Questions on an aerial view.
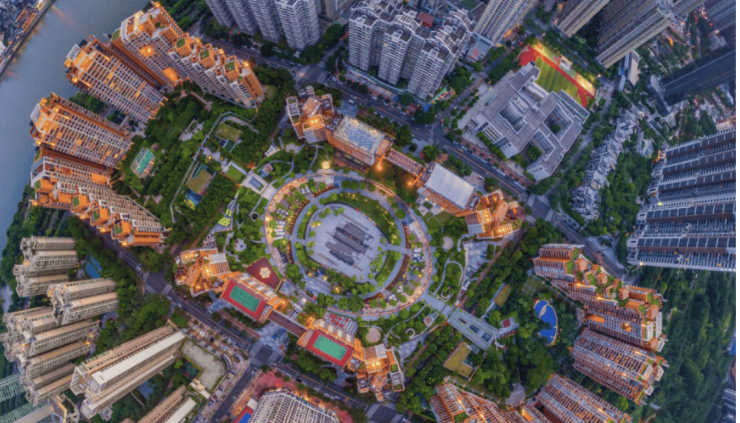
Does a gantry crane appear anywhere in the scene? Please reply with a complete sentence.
No, no gantry crane is visible in the scene.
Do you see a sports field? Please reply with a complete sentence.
Yes, there is a sports field in the image.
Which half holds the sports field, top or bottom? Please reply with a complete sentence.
The top half of the photo is where the sports field is.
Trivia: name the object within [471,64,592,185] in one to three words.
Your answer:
building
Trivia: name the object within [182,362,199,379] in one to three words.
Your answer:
swimming pool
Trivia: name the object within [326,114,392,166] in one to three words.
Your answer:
building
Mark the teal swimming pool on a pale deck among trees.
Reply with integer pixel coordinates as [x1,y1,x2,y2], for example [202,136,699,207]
[129,148,157,179]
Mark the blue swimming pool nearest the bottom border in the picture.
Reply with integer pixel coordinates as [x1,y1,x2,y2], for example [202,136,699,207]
[139,377,154,399]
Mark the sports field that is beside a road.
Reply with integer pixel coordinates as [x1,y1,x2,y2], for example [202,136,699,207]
[519,42,599,111]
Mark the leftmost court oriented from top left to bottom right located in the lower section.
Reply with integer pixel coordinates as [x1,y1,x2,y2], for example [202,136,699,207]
[223,281,266,317]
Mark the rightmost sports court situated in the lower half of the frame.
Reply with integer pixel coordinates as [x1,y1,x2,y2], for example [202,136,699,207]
[309,331,353,366]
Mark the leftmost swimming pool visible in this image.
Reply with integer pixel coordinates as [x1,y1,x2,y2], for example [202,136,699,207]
[80,254,108,280]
